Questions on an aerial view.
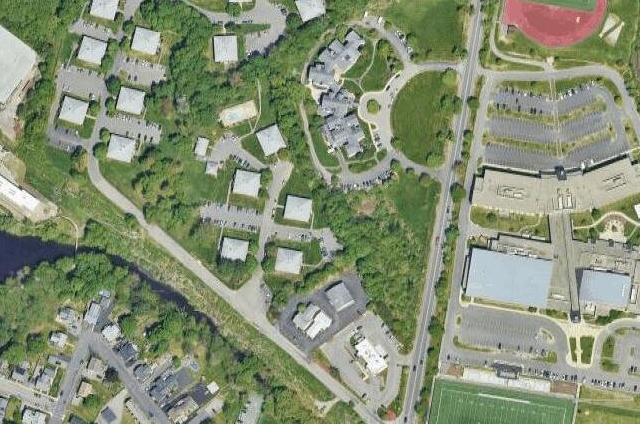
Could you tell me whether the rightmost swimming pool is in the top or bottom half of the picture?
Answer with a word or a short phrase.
top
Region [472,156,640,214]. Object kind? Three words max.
building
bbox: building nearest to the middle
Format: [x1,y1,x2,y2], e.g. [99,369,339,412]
[284,195,313,223]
